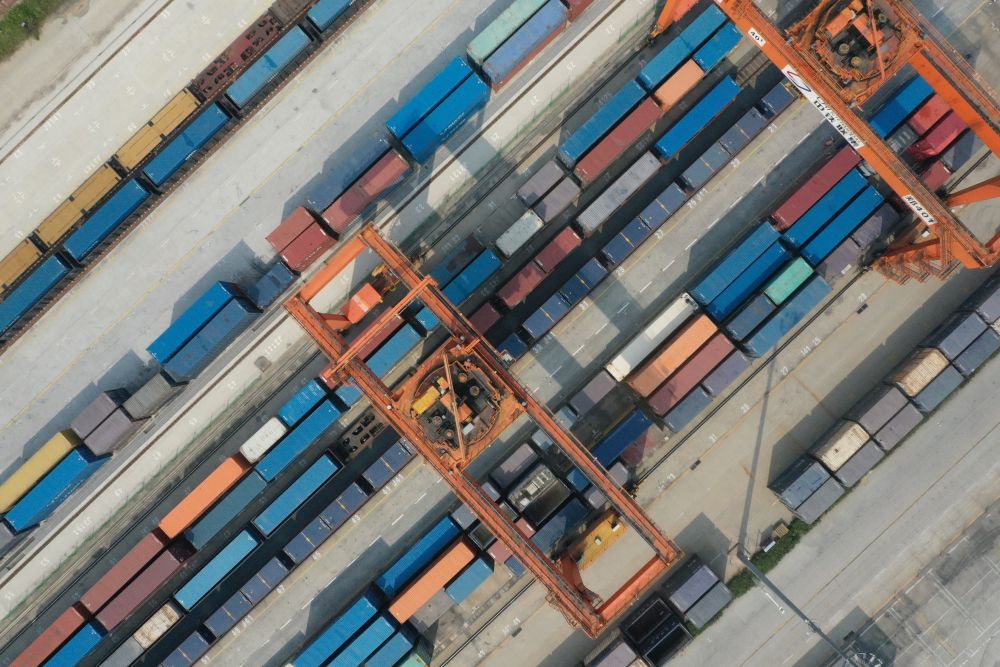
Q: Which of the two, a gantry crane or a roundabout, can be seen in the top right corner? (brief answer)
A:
gantry crane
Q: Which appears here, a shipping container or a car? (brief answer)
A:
shipping container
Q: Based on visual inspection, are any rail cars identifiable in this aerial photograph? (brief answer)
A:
Yes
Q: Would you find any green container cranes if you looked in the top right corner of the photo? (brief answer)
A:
No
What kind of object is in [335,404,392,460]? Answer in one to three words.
rail car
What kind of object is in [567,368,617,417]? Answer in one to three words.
shipping container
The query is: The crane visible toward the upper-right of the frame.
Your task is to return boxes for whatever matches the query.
[636,0,1000,304]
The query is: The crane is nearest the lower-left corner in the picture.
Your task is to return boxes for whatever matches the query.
[277,213,692,656]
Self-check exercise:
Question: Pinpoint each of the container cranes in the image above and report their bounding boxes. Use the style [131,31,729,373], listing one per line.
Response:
[636,0,1000,304]
[277,213,692,656]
